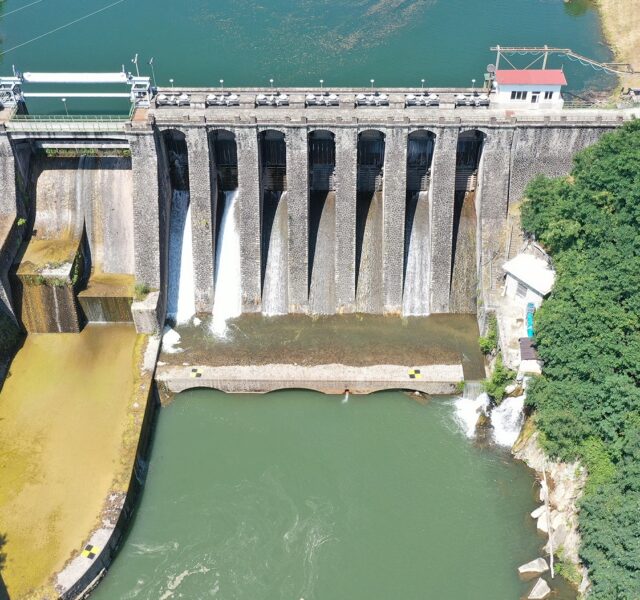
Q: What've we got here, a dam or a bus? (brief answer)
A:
dam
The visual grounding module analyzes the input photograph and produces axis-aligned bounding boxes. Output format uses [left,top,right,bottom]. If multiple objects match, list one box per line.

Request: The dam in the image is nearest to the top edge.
[0,88,639,336]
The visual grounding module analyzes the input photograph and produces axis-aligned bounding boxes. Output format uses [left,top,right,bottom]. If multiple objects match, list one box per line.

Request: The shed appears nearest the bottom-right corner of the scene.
[514,338,548,377]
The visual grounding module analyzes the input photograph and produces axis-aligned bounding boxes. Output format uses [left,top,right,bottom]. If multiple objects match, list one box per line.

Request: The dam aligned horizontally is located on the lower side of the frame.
[152,366,465,396]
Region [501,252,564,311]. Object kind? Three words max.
shed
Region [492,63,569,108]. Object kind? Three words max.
building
